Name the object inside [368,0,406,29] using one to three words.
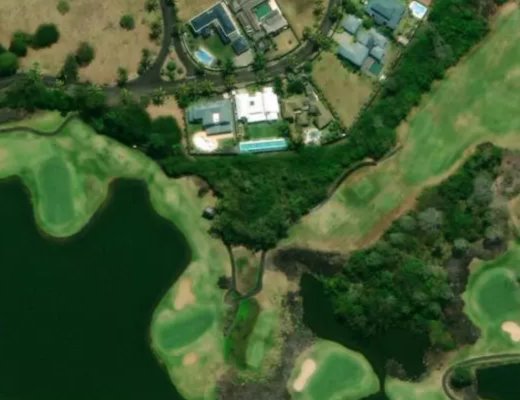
house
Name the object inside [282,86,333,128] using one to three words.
house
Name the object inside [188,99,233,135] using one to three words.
building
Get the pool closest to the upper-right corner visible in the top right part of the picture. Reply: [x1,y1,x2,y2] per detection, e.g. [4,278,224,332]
[409,1,427,19]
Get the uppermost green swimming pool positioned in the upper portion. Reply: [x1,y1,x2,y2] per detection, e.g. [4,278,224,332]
[253,2,272,19]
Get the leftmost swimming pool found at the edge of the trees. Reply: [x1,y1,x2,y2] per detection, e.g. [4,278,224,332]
[194,46,217,67]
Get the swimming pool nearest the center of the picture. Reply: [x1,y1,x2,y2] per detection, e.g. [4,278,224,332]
[240,139,286,154]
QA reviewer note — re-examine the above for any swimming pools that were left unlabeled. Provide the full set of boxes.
[240,139,286,154]
[409,1,427,19]
[253,2,272,19]
[368,60,384,76]
[194,46,217,67]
